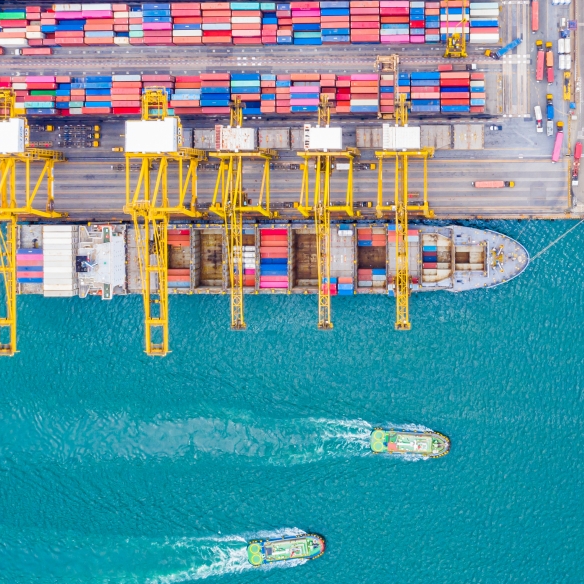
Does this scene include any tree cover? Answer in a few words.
No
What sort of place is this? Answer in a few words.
port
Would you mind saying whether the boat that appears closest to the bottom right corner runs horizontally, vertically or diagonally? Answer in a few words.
horizontally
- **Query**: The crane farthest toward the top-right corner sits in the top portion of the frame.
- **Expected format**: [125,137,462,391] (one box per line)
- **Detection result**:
[439,0,466,57]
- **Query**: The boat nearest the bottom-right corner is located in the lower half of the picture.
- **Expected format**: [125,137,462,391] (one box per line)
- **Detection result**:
[369,429,451,458]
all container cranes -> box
[439,0,466,57]
[292,93,363,330]
[203,93,283,331]
[374,58,402,119]
[119,88,210,356]
[367,92,434,331]
[0,89,71,356]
